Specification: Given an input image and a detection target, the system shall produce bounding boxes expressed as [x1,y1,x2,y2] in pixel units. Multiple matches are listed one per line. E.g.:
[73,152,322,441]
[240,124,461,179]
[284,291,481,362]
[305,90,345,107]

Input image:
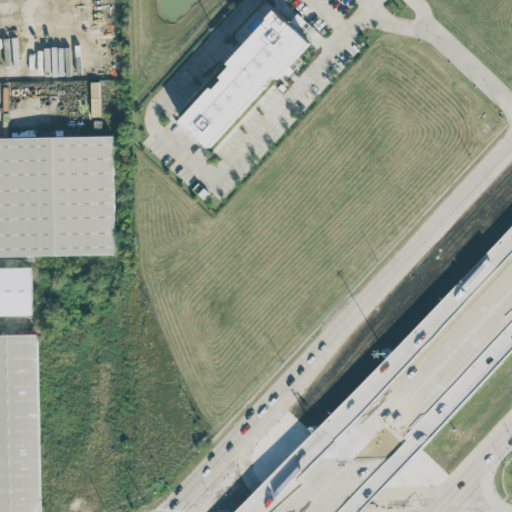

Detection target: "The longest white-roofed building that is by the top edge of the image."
[178,10,312,149]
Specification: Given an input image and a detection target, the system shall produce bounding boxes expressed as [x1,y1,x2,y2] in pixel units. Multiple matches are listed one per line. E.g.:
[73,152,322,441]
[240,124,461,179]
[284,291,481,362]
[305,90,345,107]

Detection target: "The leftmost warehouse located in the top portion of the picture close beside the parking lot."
[0,138,119,256]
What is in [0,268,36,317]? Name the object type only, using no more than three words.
building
